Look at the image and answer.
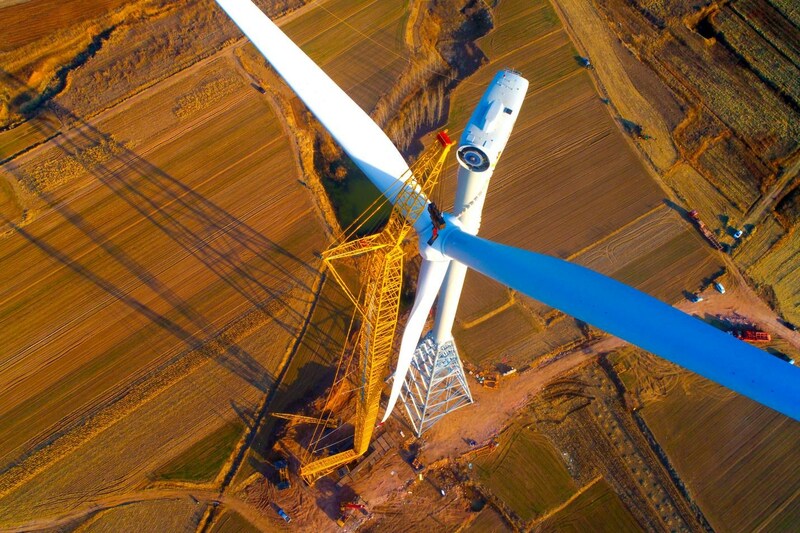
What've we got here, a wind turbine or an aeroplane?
wind turbine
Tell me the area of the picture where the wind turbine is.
center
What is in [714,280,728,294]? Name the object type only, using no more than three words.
vehicle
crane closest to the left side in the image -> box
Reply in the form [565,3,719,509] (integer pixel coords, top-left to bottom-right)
[271,413,360,433]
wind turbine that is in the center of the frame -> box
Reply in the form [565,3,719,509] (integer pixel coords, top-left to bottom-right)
[380,50,529,442]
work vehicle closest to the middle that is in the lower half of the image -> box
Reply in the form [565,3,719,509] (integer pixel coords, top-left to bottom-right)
[481,373,499,389]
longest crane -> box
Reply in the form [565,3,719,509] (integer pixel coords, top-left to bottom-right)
[300,108,458,481]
